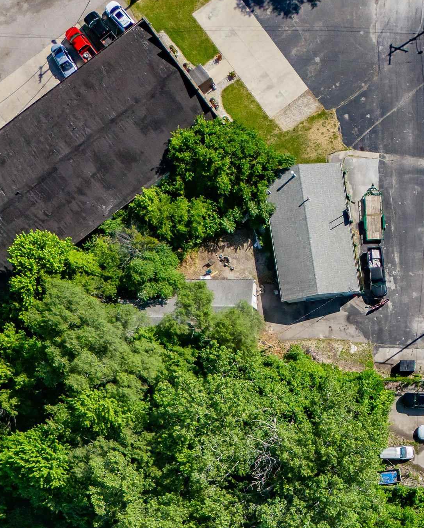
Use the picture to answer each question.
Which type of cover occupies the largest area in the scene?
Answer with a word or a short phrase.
trees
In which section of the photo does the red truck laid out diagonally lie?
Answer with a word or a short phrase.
top left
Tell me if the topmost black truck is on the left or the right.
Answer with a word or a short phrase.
left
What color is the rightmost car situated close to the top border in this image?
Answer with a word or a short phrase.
white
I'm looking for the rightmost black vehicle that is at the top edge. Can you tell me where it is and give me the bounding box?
[84,8,117,46]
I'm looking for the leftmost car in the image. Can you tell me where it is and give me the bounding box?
[48,41,77,76]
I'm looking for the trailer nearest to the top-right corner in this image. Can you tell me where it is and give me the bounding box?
[360,186,388,241]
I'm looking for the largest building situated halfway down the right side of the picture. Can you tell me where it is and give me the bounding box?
[260,163,362,303]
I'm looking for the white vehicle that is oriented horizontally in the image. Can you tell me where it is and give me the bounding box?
[379,445,416,462]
